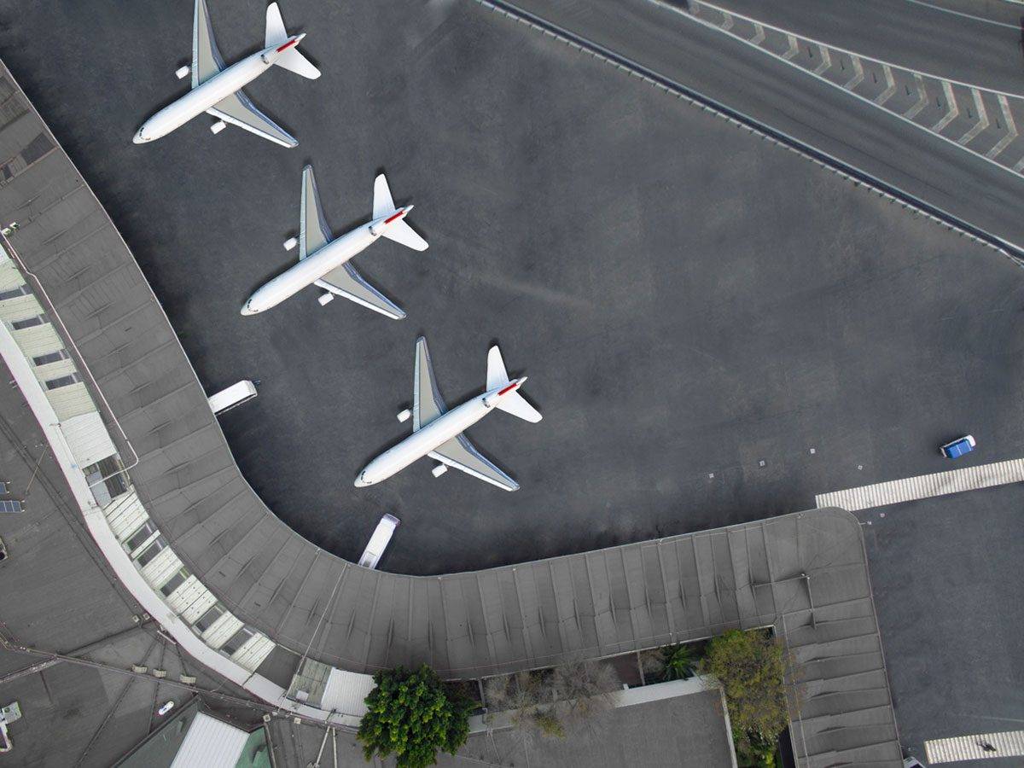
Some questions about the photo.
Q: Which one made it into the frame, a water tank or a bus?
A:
bus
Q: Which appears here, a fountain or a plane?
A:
plane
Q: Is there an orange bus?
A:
No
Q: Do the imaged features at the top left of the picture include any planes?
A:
Yes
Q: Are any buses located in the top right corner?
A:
No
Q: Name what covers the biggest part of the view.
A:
paved ground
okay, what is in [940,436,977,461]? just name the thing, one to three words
truck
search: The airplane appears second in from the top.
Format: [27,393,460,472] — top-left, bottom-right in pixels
[241,159,430,318]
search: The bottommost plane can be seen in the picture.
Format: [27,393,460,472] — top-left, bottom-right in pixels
[354,333,545,491]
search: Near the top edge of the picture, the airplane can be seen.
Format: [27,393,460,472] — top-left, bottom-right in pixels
[133,0,321,146]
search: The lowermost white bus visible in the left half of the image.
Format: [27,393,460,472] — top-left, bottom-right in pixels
[358,515,401,570]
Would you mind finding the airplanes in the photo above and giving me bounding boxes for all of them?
[354,333,545,491]
[241,159,430,318]
[133,0,321,146]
